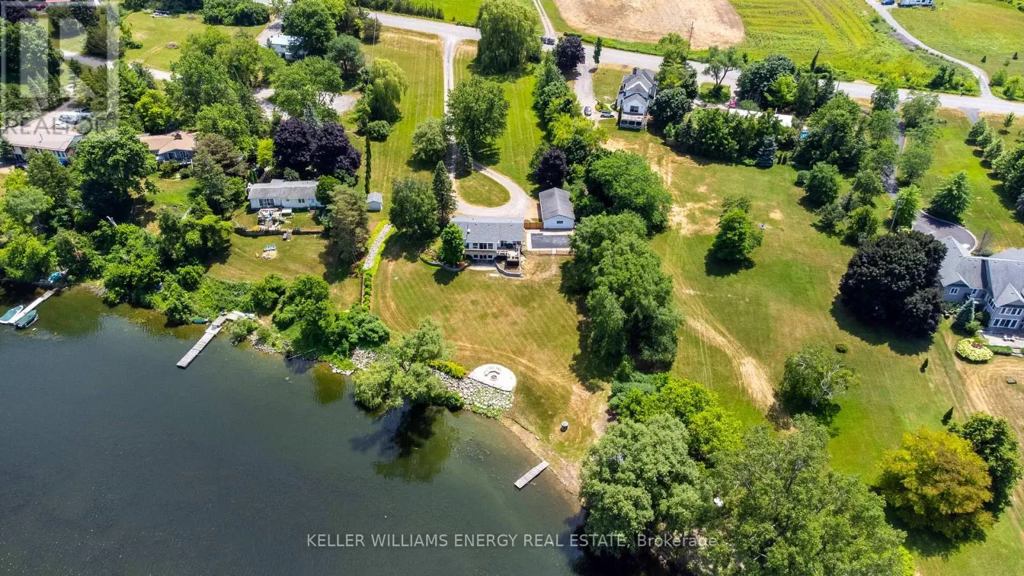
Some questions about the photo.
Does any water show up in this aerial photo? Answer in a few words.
Yes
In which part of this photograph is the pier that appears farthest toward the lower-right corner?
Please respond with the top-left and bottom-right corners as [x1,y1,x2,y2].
[515,462,549,489]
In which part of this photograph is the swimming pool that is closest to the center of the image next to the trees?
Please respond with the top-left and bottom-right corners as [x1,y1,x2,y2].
[531,234,576,248]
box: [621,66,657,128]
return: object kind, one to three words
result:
house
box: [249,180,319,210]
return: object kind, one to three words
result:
house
